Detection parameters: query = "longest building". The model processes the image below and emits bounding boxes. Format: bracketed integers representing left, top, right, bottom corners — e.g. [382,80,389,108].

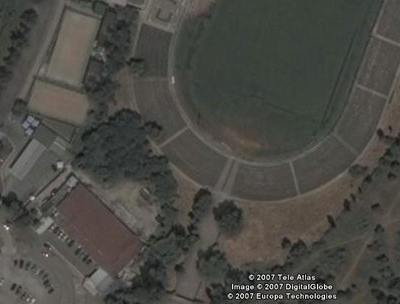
[58,184,143,277]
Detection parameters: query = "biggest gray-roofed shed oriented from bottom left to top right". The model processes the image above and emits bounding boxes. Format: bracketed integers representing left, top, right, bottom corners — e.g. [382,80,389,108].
[9,138,47,179]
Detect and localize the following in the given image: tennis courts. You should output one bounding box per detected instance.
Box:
[47,9,98,87]
[27,80,88,125]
